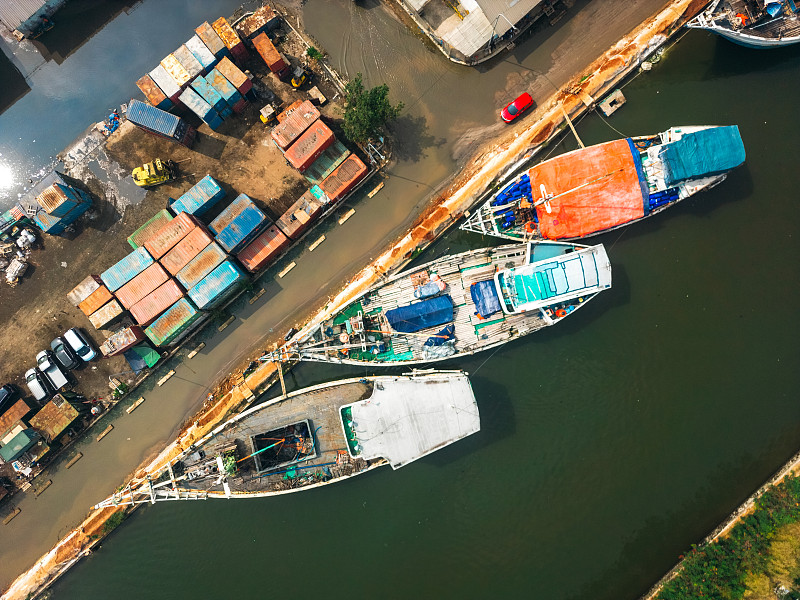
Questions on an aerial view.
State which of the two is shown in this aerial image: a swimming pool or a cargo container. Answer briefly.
cargo container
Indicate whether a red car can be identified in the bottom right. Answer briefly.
No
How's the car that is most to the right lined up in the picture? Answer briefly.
at an angle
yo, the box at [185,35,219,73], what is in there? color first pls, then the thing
white shipping container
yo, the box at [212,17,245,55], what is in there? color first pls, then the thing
orange shipping container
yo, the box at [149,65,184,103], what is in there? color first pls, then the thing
white shipping container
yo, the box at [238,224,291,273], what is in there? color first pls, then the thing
red shipping container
